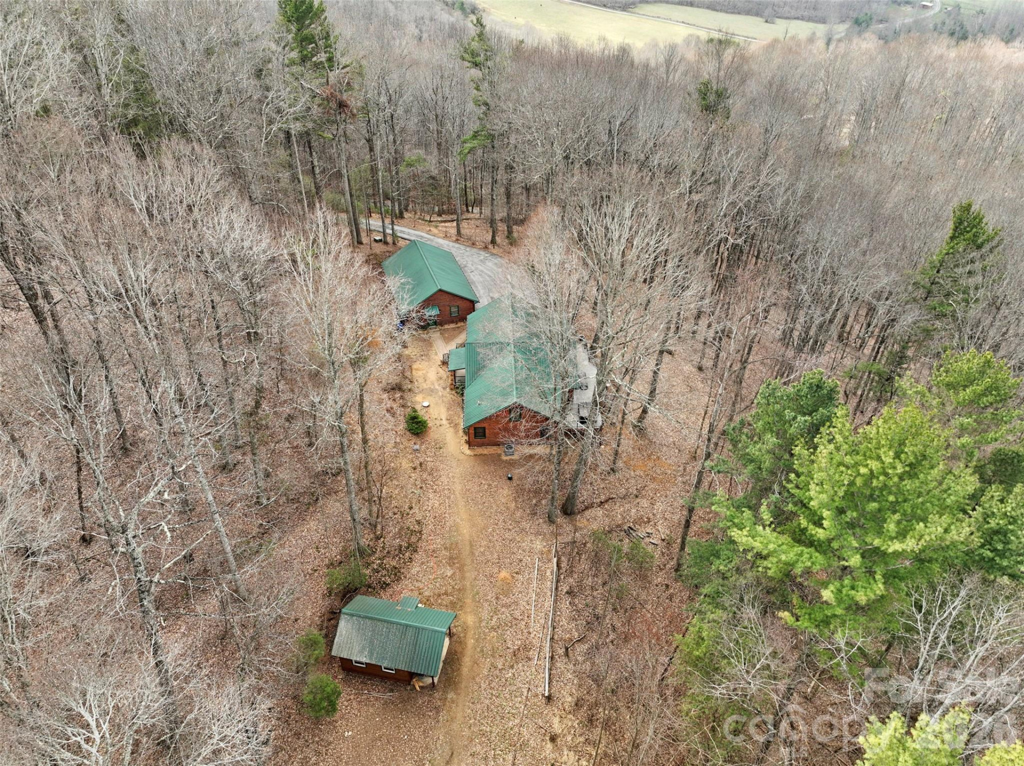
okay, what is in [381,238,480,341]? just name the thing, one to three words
building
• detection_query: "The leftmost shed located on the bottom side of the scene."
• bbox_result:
[329,590,454,689]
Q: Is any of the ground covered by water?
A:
No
